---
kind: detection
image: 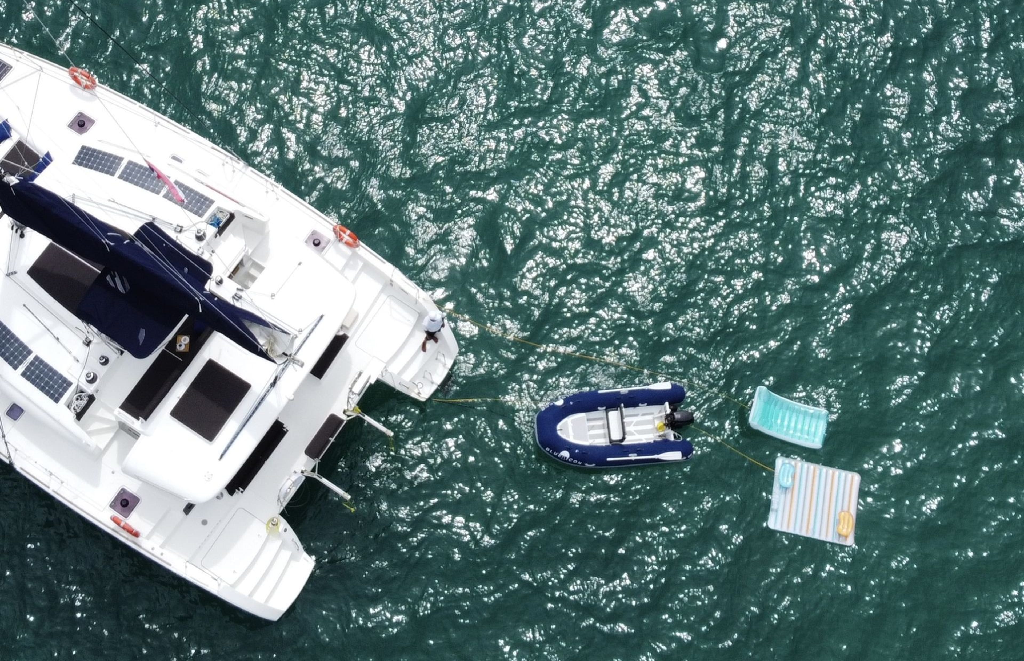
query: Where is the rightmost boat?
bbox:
[535,385,694,468]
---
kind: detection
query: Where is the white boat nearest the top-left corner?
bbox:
[0,0,459,622]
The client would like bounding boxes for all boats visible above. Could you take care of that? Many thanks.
[535,385,694,468]
[0,0,459,622]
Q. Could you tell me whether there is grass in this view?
No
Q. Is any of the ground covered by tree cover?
No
